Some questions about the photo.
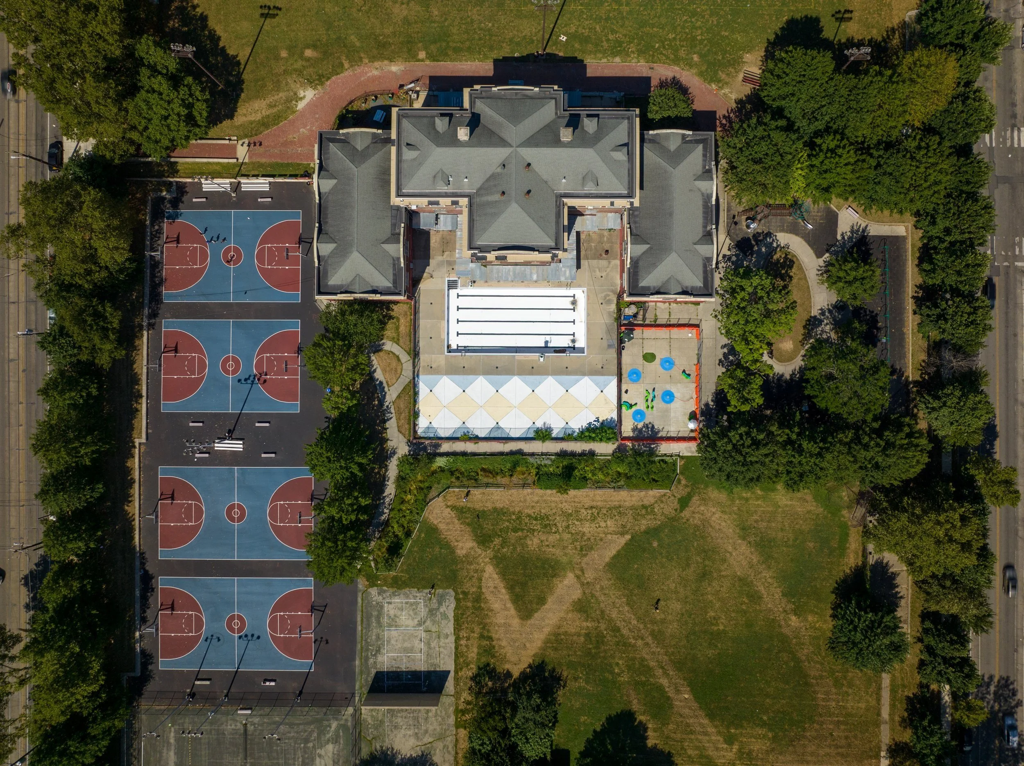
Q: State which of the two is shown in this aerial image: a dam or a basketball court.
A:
basketball court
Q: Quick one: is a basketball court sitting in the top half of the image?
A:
Yes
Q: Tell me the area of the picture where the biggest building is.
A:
top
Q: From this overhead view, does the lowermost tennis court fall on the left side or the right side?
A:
left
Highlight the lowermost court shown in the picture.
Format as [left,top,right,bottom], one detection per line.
[142,707,356,766]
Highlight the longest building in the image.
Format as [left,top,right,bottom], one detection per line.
[313,82,718,304]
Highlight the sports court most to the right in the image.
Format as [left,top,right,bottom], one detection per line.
[358,579,455,766]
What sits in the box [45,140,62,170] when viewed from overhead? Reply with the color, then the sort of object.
black car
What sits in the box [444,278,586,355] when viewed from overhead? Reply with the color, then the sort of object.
white swimming pool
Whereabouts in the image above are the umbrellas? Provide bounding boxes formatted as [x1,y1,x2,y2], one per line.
[620,331,633,344]
[687,420,697,429]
